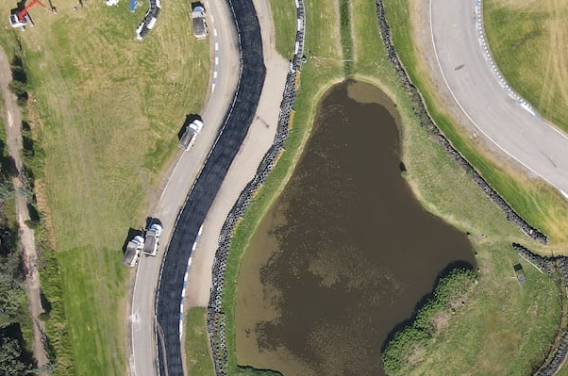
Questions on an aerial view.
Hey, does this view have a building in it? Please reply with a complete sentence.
No, no building is visible in the scene.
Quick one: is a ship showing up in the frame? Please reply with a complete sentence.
No, no ship can be seen from above.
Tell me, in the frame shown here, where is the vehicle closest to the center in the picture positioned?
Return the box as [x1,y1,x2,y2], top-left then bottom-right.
[174,116,203,150]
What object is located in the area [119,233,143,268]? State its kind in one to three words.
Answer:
truck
